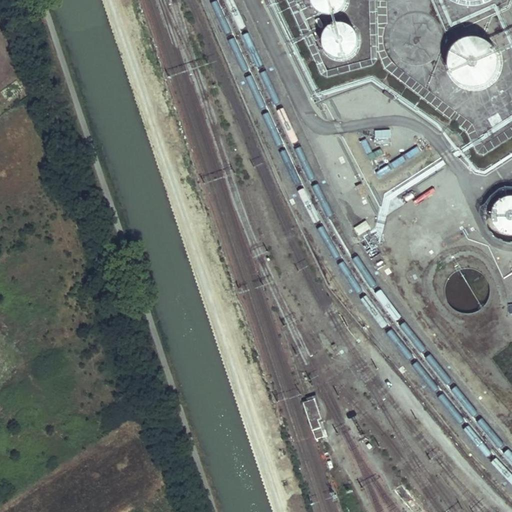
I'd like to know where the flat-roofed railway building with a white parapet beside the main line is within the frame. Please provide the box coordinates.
[302,398,327,442]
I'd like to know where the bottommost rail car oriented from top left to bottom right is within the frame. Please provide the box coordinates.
[492,459,512,486]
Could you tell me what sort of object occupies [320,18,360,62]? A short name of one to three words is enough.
storage tank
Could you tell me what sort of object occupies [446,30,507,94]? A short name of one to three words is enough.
storage tank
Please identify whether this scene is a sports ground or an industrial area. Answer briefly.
industrial area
